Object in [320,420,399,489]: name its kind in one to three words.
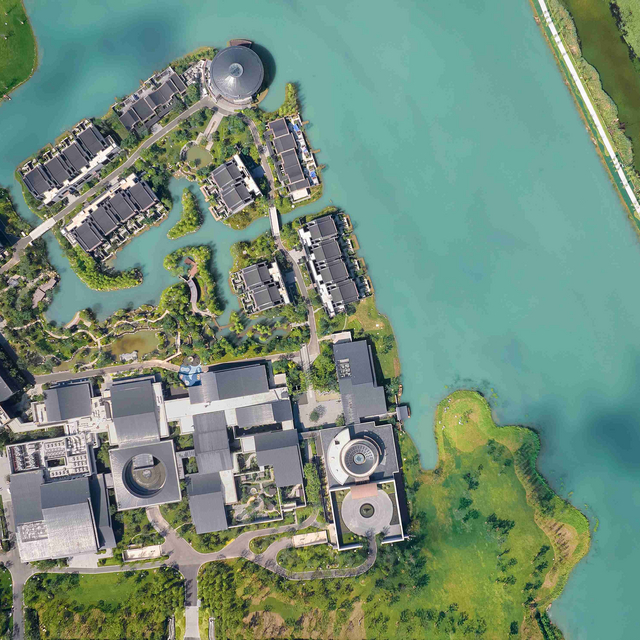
building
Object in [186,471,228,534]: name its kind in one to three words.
building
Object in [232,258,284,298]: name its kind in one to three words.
house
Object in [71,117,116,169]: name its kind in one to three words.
house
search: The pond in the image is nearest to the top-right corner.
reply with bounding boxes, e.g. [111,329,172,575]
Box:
[564,0,640,171]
